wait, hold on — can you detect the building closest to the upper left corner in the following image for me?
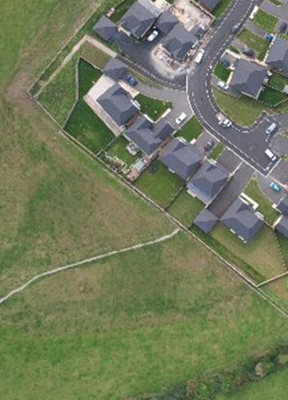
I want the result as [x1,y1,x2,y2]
[95,16,118,40]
